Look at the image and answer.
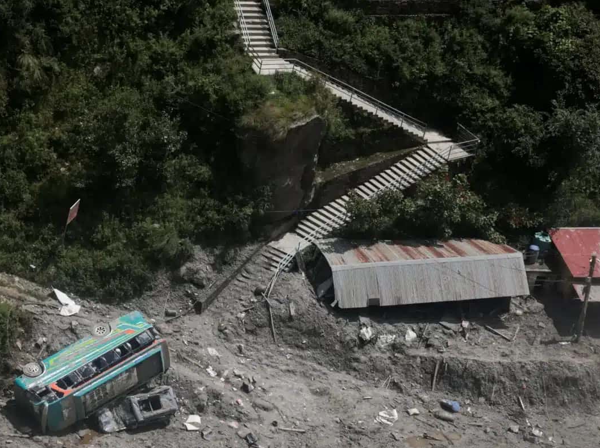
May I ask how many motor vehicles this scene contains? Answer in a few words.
2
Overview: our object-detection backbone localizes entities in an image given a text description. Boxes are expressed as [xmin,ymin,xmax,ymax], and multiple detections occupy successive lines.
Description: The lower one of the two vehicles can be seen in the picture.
[92,381,181,439]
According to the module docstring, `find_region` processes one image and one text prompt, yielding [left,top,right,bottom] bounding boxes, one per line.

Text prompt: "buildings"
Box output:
[551,226,600,324]
[314,240,530,322]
